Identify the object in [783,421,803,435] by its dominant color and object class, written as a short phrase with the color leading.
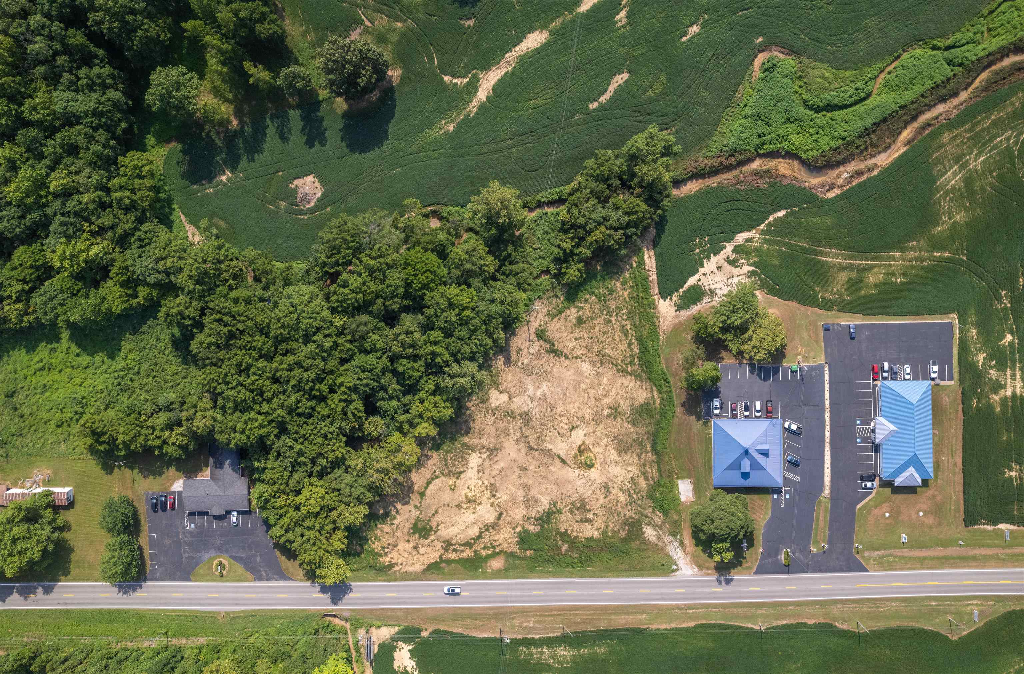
white vehicle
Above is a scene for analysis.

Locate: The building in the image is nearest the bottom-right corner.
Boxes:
[871,380,933,486]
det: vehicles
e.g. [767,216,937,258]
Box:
[730,403,738,417]
[444,586,461,594]
[890,364,898,379]
[870,364,879,380]
[783,421,803,435]
[903,365,910,380]
[928,360,938,379]
[159,493,168,510]
[754,401,762,417]
[232,511,239,526]
[848,324,856,340]
[742,400,750,416]
[765,400,773,418]
[786,456,801,465]
[881,362,890,378]
[861,482,876,489]
[859,474,875,481]
[168,495,176,509]
[150,495,159,511]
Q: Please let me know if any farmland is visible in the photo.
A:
Yes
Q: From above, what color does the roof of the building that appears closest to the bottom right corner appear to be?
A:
blue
